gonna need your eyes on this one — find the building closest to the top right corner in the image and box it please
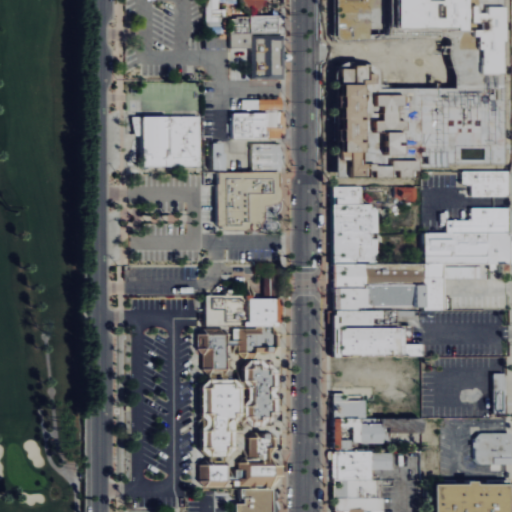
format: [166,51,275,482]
[470,7,507,76]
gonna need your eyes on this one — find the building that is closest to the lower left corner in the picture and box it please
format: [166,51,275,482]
[195,464,230,488]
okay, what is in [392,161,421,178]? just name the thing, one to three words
building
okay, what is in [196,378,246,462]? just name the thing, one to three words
building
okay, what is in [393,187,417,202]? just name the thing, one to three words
house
